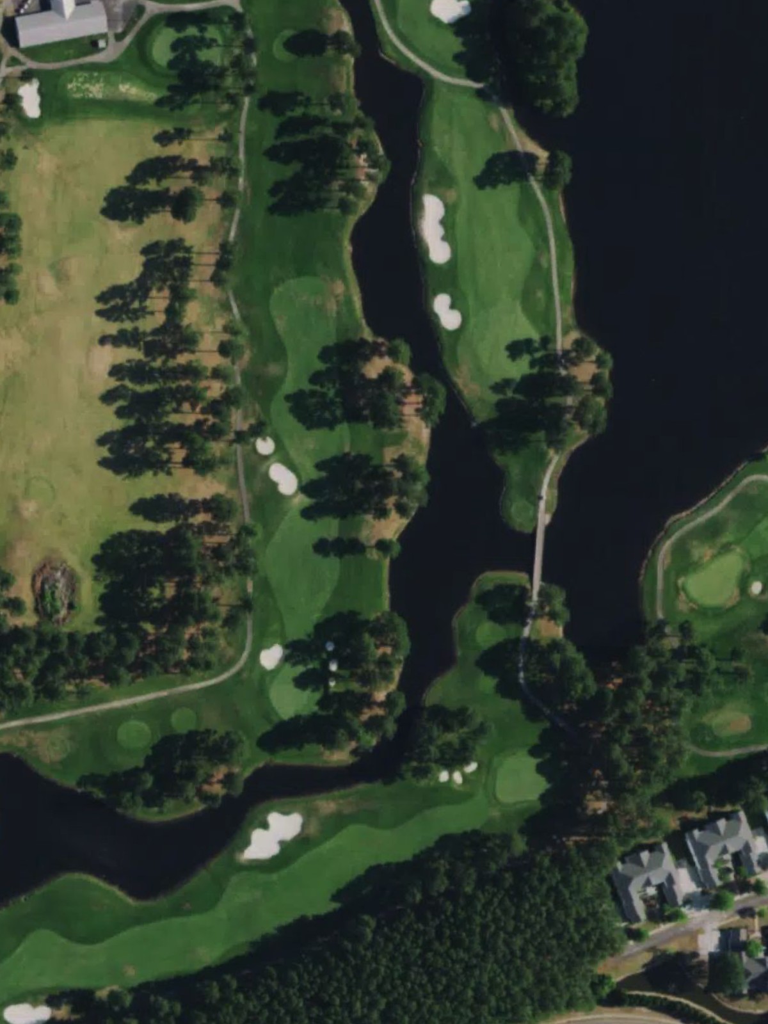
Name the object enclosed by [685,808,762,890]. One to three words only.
house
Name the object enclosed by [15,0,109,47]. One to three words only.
building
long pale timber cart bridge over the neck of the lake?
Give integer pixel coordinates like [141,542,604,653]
[530,493,547,608]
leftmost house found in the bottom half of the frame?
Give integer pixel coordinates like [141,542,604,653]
[614,845,687,924]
